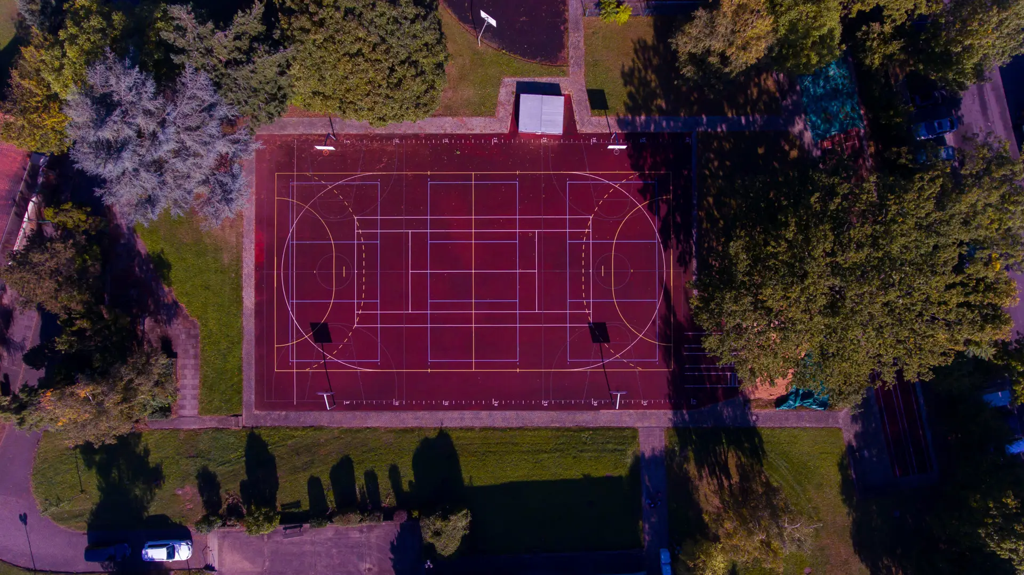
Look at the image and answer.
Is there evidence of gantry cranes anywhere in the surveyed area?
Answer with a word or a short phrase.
No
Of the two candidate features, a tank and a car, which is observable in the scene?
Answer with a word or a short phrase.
car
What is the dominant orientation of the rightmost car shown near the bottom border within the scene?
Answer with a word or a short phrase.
from left to right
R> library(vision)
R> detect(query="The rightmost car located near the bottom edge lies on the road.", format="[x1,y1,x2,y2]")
[143,538,193,562]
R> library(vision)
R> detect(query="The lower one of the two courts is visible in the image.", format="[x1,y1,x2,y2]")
[255,95,747,410]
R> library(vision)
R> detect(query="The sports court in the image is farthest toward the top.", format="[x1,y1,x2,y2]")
[444,0,568,66]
